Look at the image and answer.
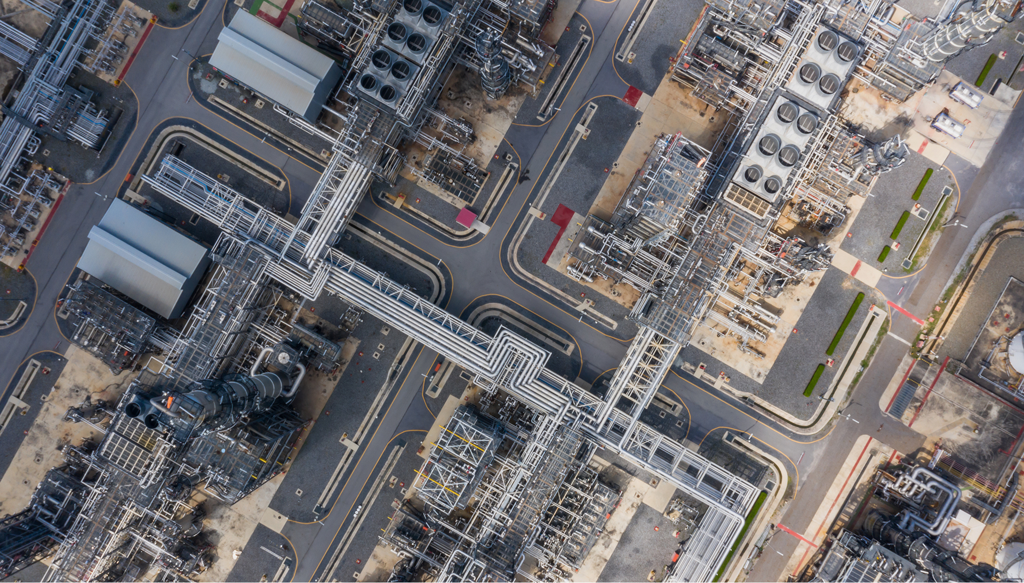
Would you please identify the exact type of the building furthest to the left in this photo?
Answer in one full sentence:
Specifically, the building furthest to the left is a warehouse.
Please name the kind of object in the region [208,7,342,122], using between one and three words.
warehouse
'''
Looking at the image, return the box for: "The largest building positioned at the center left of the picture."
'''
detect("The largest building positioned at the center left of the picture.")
[78,197,219,320]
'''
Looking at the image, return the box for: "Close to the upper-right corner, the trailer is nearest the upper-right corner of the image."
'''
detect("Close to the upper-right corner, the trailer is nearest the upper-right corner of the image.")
[947,76,993,107]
